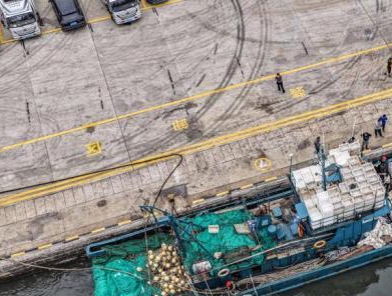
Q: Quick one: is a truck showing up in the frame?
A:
Yes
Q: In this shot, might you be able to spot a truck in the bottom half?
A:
No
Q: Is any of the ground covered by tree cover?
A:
No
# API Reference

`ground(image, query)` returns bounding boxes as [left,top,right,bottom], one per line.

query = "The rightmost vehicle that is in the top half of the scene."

[99,0,138,26]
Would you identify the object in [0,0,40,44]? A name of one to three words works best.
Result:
truck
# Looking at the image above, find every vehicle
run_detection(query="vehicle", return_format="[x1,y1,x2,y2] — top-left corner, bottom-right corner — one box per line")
[50,0,86,30]
[0,0,40,44]
[99,0,138,26]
